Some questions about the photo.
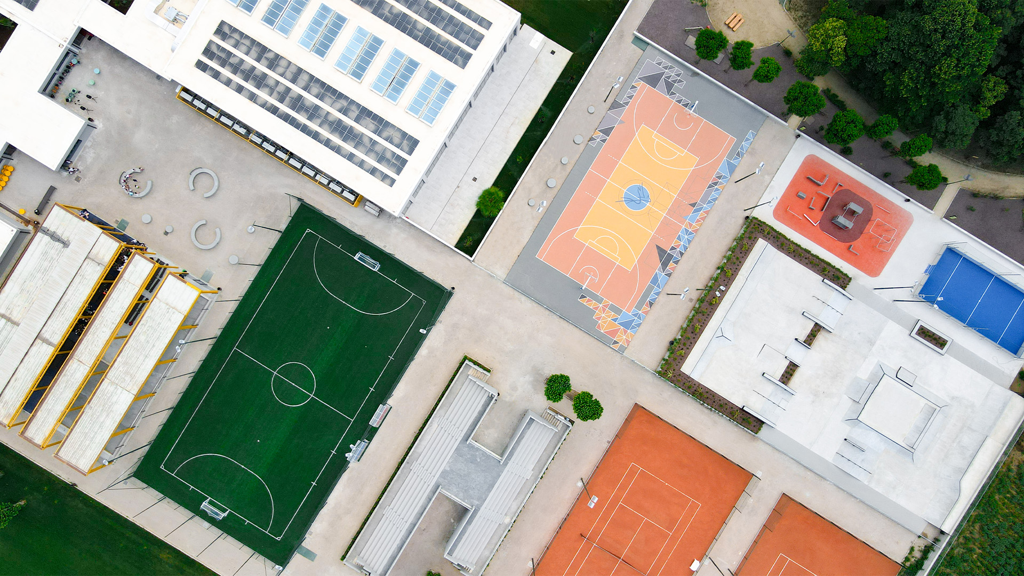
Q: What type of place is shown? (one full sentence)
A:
This image shows a sports ground.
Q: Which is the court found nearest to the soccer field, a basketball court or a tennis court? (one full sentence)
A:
The court found nearest to the soccer field appears to be a basketball court.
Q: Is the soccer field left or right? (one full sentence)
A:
The soccer field is on the left side of the image.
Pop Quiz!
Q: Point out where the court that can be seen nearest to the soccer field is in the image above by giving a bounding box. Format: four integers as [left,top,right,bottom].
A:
[505,47,766,351]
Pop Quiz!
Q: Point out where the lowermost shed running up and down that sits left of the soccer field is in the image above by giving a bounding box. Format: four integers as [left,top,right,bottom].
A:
[0,215,30,283]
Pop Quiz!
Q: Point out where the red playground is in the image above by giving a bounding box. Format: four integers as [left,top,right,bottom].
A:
[771,153,914,280]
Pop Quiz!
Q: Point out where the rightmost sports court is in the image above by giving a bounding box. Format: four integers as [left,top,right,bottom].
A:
[912,243,1024,365]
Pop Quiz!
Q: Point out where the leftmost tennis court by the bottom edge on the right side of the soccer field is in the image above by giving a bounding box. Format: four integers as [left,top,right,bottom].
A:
[533,404,754,576]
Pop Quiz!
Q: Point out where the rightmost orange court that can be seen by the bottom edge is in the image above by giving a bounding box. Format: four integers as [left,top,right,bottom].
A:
[733,494,902,576]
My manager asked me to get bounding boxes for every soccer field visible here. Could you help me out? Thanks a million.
[133,203,453,571]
